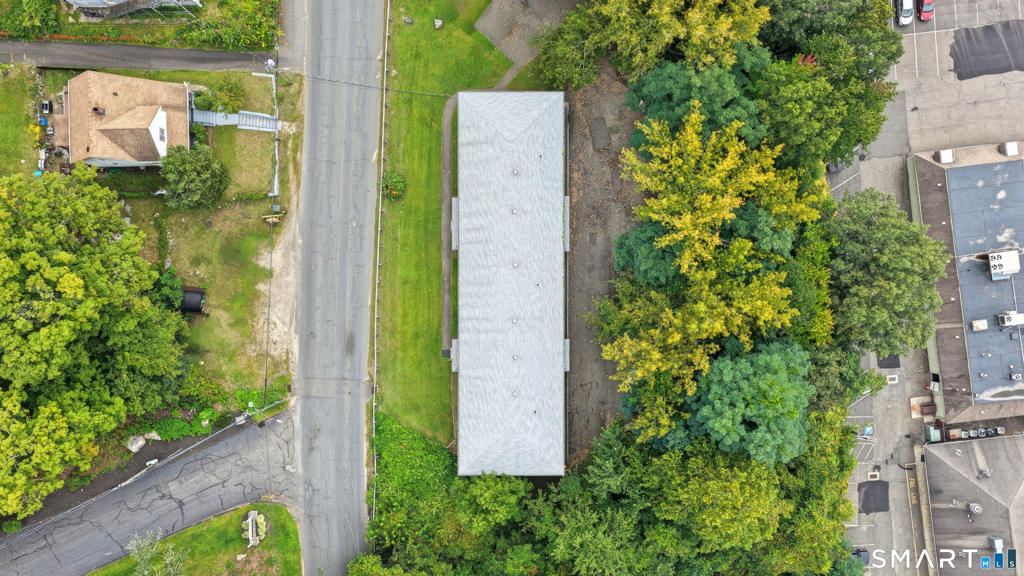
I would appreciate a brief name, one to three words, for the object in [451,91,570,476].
building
